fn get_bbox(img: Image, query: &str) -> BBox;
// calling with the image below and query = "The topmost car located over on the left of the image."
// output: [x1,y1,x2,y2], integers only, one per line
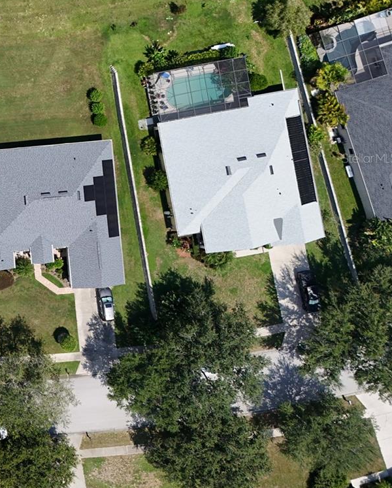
[98,288,115,324]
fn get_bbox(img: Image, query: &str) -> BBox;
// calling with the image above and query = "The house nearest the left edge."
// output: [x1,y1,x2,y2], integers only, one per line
[0,139,126,289]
